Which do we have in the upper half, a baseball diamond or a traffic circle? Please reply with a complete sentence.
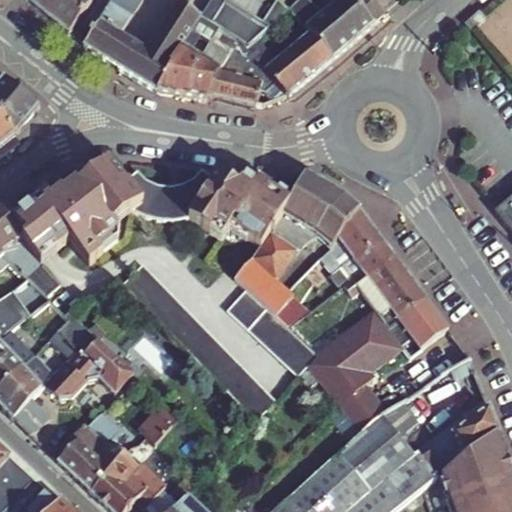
The feature located in the upper half is a traffic circle.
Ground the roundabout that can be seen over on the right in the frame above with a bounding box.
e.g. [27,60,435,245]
[324,70,438,183]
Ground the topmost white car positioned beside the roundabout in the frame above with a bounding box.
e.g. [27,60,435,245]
[309,118,330,132]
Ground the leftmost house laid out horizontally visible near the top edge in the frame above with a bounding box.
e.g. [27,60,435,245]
[20,0,100,38]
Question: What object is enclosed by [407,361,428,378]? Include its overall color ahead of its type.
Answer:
white vehicle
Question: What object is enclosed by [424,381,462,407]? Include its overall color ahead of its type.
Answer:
white truck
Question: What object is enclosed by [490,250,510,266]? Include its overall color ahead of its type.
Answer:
white car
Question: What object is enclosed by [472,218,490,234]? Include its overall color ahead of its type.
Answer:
white car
